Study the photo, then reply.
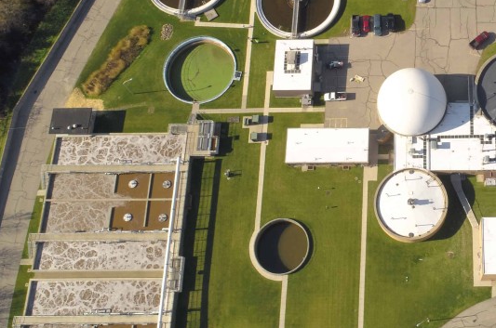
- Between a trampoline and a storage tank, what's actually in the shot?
storage tank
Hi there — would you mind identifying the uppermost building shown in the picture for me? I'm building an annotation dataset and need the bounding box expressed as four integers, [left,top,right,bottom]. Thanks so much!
[272,40,323,99]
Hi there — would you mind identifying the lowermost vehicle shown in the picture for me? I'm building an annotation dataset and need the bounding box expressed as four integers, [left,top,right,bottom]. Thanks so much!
[320,90,349,102]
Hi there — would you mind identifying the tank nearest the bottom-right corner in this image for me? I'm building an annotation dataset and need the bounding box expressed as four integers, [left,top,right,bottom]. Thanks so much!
[375,169,448,244]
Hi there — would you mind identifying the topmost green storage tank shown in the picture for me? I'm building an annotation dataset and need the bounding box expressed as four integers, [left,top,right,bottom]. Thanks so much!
[163,36,245,106]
